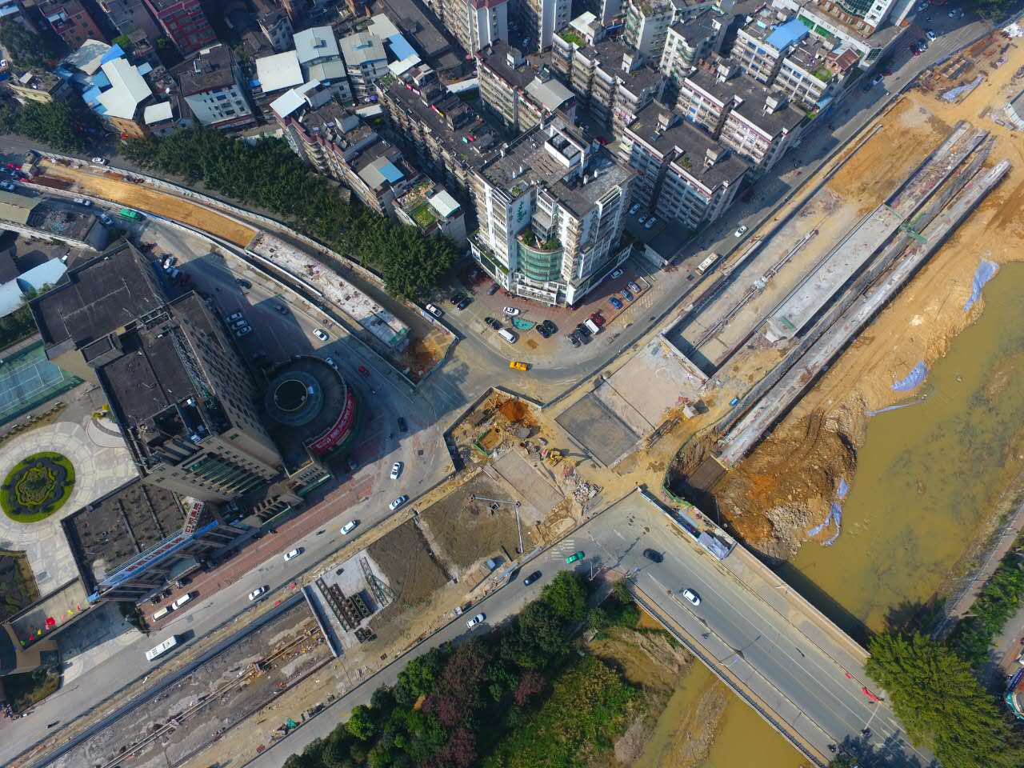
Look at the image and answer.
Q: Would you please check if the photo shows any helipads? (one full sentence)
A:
No, the picture doesn't show any helipad.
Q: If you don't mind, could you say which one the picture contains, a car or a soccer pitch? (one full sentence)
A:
It is a car that can be seen here.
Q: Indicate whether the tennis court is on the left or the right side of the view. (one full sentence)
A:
The tennis court sits on the left side.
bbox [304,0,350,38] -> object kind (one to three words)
house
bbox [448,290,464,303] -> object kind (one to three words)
vehicle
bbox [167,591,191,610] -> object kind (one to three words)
vehicle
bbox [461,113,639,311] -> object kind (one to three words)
building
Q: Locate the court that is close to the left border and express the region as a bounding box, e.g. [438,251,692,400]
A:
[0,339,82,422]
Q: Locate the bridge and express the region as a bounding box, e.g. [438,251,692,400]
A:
[631,534,1024,768]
